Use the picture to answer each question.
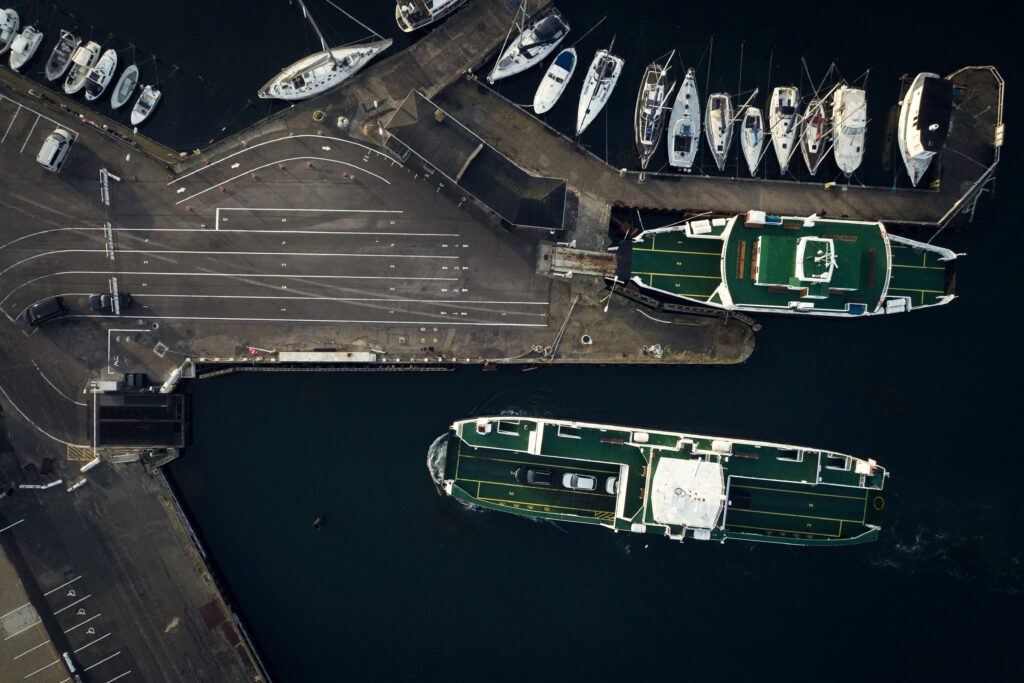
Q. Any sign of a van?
Yes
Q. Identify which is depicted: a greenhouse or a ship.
ship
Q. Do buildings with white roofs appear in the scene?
No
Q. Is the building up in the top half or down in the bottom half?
top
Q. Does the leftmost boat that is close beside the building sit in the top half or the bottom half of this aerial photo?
top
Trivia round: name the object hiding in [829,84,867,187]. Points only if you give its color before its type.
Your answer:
white boat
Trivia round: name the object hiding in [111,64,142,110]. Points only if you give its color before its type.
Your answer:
gray boat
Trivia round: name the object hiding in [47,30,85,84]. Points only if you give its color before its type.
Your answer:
gray boat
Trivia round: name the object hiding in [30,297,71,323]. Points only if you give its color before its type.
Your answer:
black car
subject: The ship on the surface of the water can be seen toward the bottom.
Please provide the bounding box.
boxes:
[445,416,888,546]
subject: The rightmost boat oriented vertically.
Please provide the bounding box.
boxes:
[897,73,953,189]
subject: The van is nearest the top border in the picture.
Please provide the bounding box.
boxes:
[38,133,74,173]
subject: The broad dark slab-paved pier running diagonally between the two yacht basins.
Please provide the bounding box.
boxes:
[356,0,572,86]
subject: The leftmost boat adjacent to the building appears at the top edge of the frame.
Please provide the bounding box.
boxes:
[254,0,392,101]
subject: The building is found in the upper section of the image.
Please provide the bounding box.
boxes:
[385,90,567,235]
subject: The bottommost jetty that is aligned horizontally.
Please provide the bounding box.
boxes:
[201,365,456,379]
